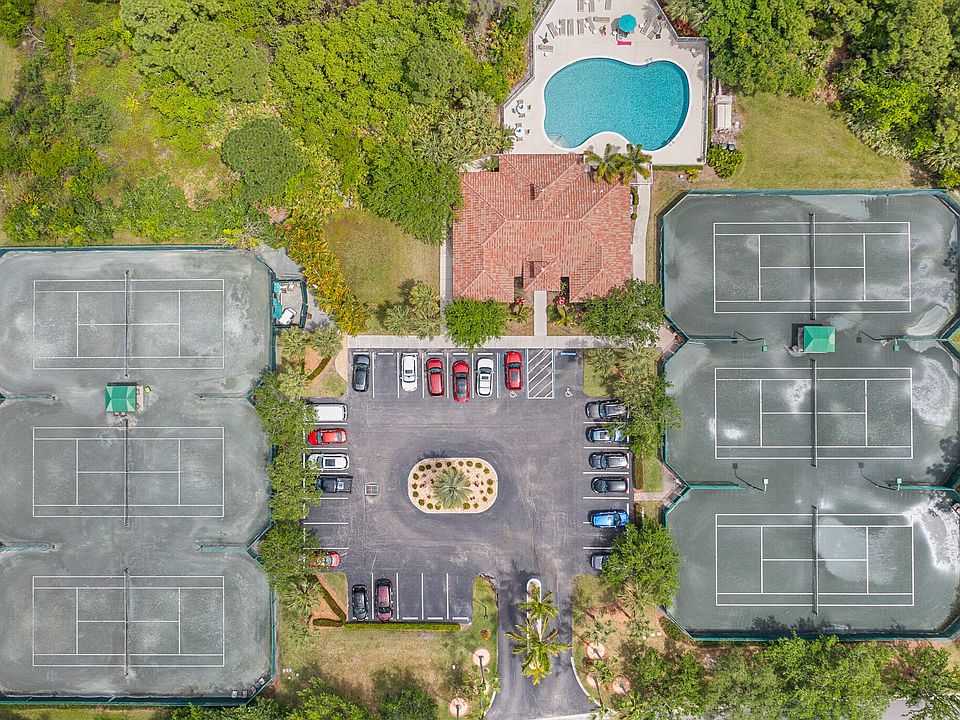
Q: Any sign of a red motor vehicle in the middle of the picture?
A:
Yes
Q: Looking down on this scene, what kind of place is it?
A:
sports ground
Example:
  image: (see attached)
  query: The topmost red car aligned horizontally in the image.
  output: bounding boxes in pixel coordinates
[308,428,347,446]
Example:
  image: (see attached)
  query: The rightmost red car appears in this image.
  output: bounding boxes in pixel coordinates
[504,352,522,390]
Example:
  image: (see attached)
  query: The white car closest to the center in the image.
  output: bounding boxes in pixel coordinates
[476,357,494,397]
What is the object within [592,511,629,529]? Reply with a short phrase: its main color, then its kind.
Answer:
blue car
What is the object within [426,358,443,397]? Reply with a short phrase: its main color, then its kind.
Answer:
red car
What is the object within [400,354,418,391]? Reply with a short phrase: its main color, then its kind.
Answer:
white car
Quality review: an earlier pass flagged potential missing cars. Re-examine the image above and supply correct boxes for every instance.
[590,476,628,494]
[476,357,494,397]
[303,550,340,569]
[374,578,393,620]
[426,358,443,397]
[592,511,629,529]
[308,428,347,446]
[352,354,369,391]
[585,401,627,419]
[588,452,628,470]
[308,453,350,471]
[351,583,368,621]
[400,354,418,391]
[452,361,470,401]
[585,426,623,443]
[504,352,522,390]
